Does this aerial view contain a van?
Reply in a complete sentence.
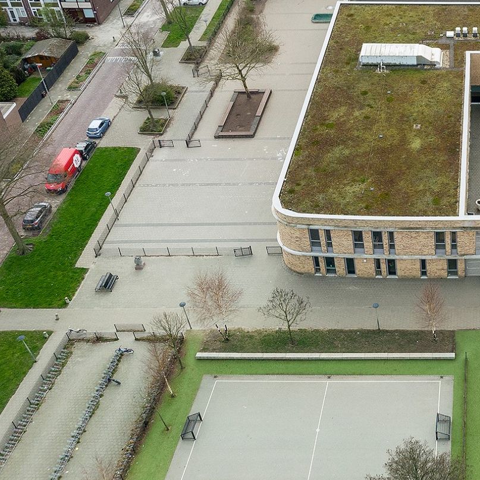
Yes, the image includes a van.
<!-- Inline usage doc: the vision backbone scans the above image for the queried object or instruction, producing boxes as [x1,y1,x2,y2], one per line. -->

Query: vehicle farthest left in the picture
[20,203,54,232]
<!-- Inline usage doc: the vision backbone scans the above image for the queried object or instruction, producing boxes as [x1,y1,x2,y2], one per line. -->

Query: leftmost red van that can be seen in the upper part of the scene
[46,148,85,193]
